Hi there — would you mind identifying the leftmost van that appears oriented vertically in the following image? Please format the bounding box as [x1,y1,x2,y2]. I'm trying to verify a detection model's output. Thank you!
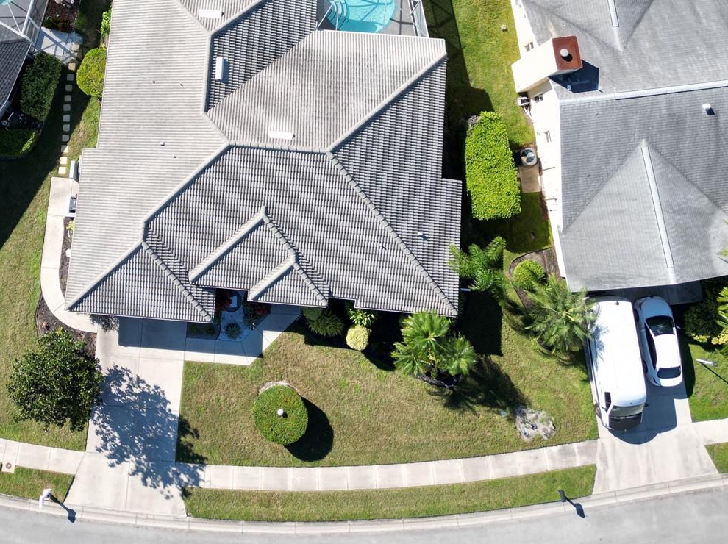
[587,304,649,427]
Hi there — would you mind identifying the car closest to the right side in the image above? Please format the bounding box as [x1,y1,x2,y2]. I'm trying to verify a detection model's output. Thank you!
[635,296,686,390]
